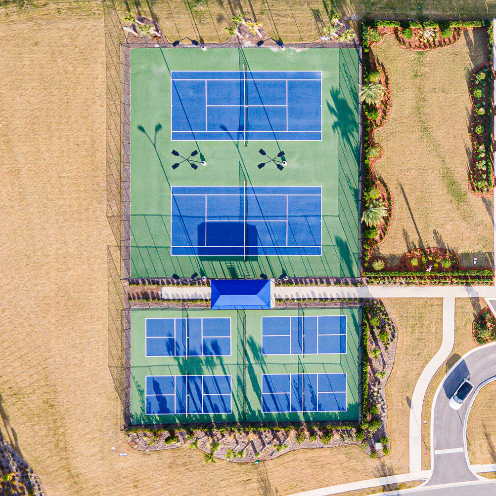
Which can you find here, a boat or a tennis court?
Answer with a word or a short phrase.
tennis court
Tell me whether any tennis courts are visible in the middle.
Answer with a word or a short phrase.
Yes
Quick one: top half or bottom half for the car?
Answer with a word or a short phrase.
bottom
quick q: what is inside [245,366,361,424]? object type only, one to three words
sports court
